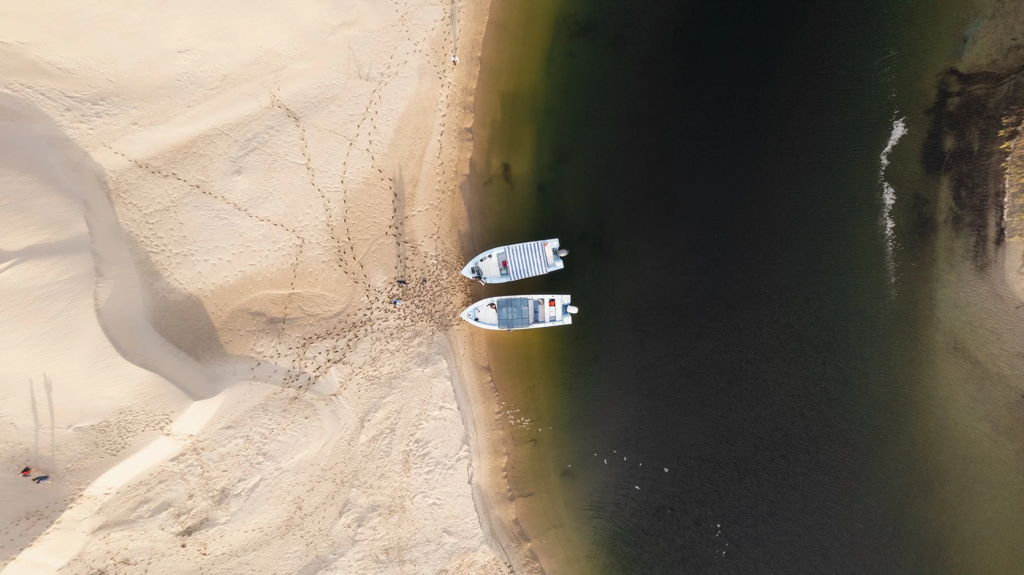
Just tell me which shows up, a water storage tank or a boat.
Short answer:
boat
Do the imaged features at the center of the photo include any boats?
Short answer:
Yes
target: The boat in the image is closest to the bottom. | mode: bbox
[460,294,579,330]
